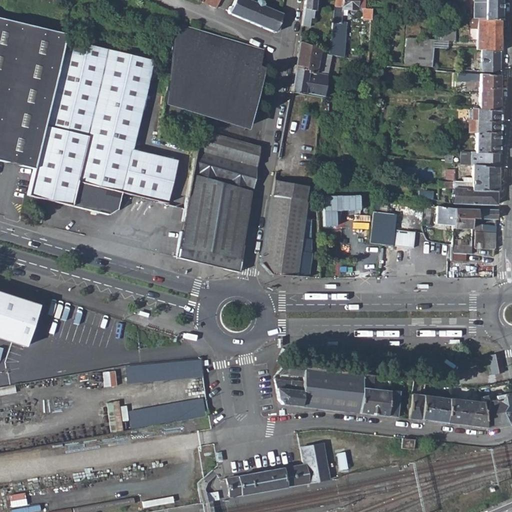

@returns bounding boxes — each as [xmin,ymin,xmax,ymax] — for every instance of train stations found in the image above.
[226,468,290,498]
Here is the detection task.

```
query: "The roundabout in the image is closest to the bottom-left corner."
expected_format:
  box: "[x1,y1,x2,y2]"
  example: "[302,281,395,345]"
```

[216,292,261,338]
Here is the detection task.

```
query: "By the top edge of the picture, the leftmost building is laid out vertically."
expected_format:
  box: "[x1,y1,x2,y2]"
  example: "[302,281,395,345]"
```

[0,16,68,170]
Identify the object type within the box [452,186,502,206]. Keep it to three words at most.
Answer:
house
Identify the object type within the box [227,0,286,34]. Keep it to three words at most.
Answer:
house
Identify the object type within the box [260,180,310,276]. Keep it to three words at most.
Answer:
building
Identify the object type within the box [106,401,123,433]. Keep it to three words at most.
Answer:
shed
